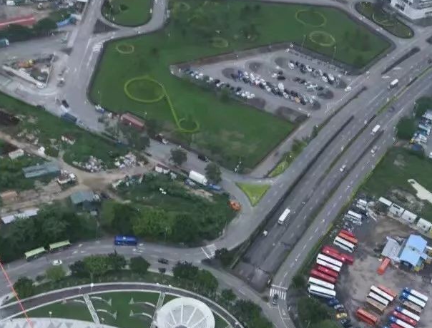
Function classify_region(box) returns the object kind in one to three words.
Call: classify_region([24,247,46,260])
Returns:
vehicle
